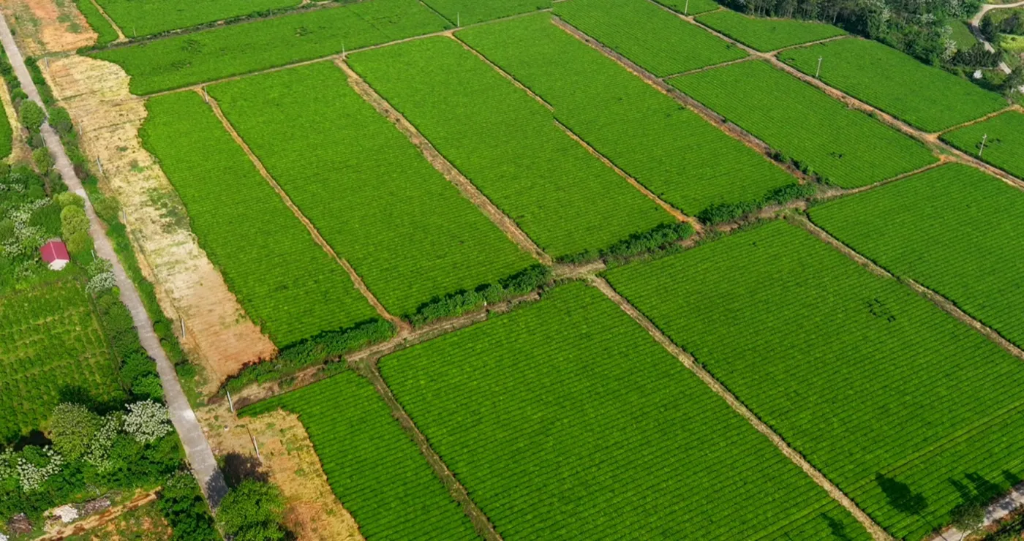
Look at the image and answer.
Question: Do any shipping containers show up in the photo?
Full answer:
No, no shipping container is visible in the scene.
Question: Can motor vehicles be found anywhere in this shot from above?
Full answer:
No, no motor vehicle can be seen from above.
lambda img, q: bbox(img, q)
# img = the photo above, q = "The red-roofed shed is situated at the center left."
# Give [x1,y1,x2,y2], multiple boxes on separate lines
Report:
[39,240,70,272]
